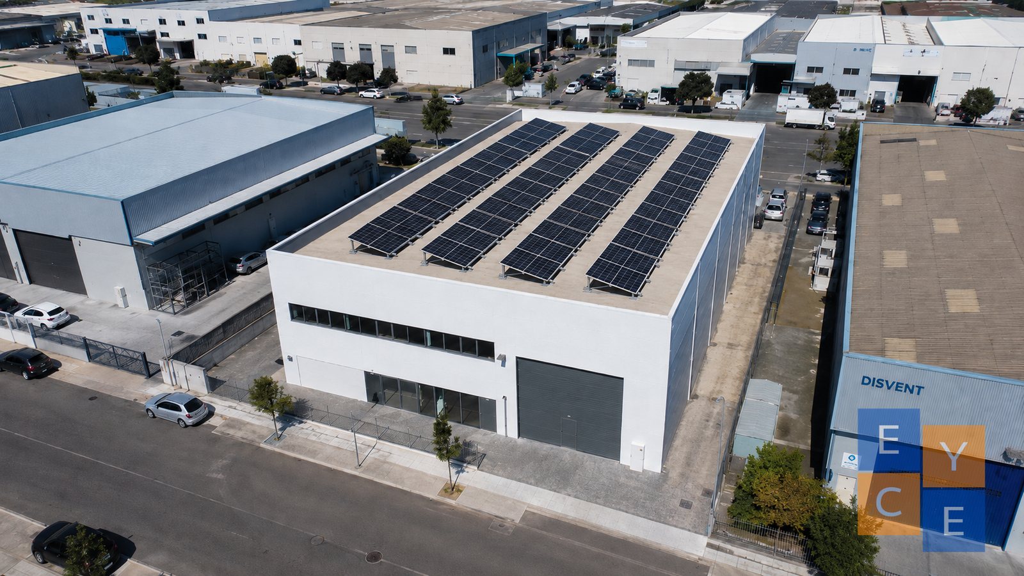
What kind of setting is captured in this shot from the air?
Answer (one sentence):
What you see here is an industrial area.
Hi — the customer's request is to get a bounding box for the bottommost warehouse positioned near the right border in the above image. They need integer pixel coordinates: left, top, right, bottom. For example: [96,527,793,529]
[826,120,1024,544]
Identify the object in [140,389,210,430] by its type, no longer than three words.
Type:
car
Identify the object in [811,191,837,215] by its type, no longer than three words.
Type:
car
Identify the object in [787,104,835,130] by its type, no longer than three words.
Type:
truck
